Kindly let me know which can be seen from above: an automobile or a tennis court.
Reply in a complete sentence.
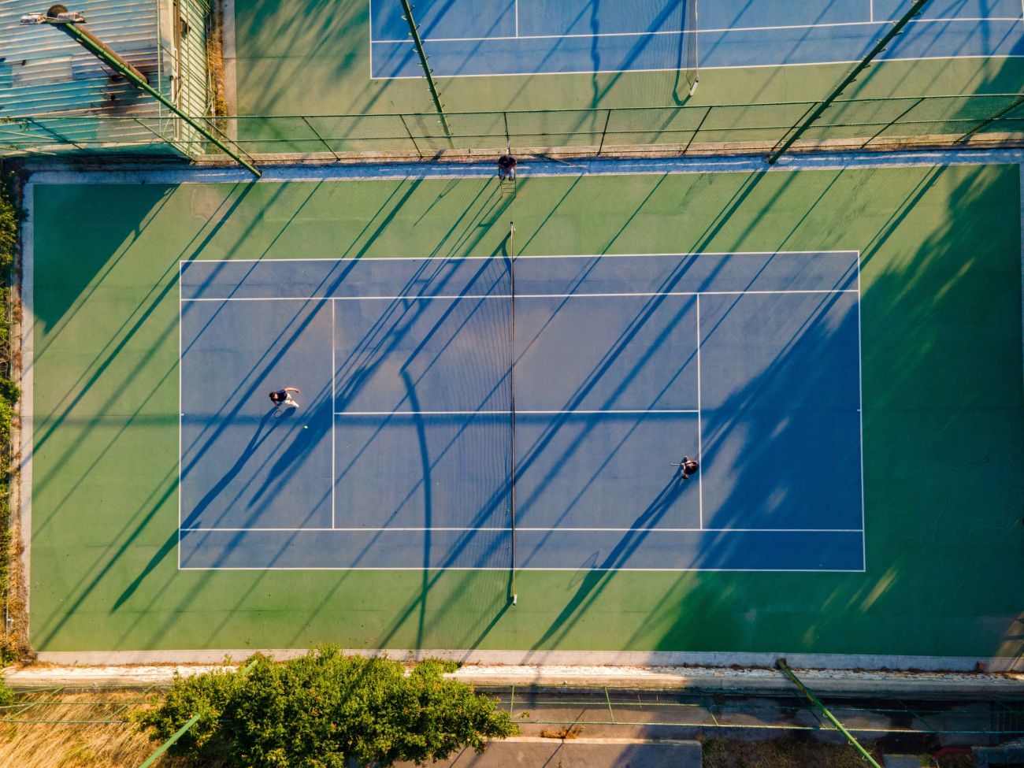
Visible in the photo is a tennis court.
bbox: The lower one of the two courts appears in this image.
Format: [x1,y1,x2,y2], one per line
[30,166,1024,658]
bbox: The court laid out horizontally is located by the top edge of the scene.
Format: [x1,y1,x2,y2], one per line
[237,0,1024,149]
